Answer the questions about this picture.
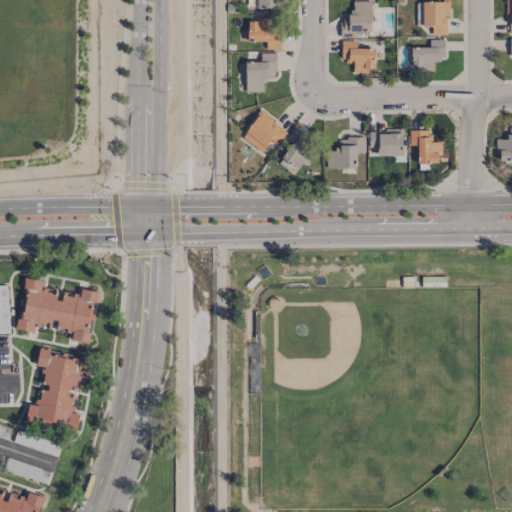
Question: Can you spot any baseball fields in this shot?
Yes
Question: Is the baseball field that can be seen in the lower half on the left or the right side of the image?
right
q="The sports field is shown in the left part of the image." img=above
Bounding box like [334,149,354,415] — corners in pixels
[0,0,79,161]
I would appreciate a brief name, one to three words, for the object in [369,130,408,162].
house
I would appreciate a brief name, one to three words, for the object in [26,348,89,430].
building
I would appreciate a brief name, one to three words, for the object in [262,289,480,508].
baseball field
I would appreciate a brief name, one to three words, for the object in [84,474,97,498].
vehicle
